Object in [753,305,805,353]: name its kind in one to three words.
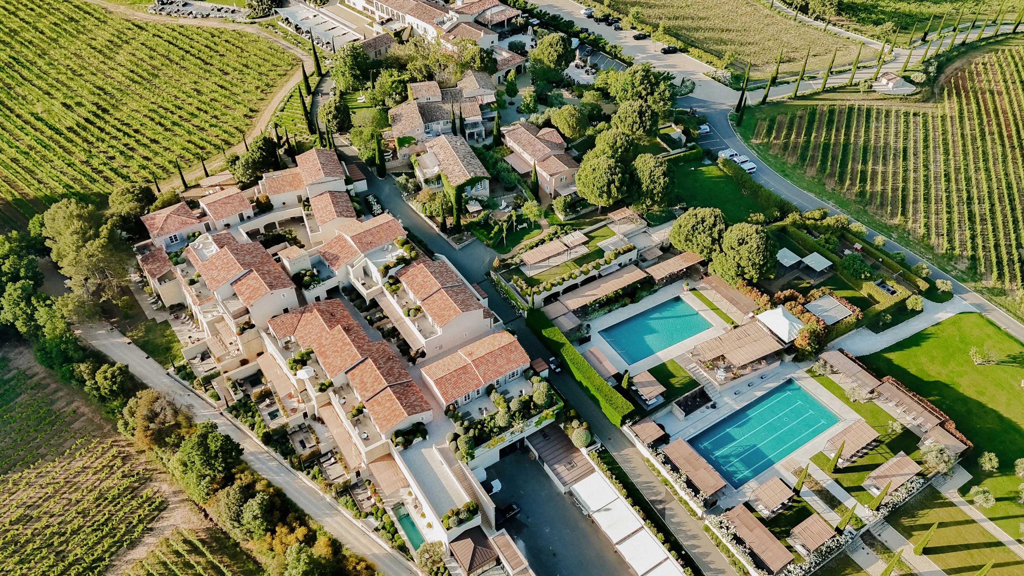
tent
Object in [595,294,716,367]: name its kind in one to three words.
swimming pool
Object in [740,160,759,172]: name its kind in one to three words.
vehicle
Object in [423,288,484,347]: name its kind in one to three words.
house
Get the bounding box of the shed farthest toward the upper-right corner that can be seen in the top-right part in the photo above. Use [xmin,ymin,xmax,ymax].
[877,71,910,92]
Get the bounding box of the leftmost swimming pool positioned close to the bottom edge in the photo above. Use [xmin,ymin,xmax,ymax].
[388,498,426,553]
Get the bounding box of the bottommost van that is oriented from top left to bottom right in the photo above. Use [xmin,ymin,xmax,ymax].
[471,460,504,492]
